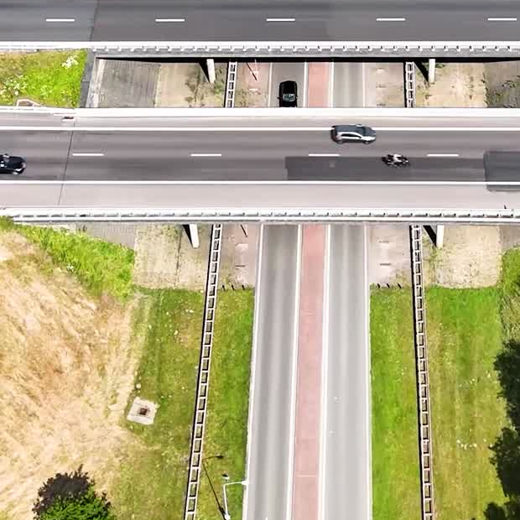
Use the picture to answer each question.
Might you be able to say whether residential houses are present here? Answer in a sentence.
No, there isn't any residential house down there.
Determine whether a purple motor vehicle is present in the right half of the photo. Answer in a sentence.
No, I can find no purple motor vehicle in the right half of the photo.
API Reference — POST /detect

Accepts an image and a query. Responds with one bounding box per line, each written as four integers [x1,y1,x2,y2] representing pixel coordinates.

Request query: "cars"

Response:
[278,80,298,106]
[0,151,26,173]
[331,122,375,144]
